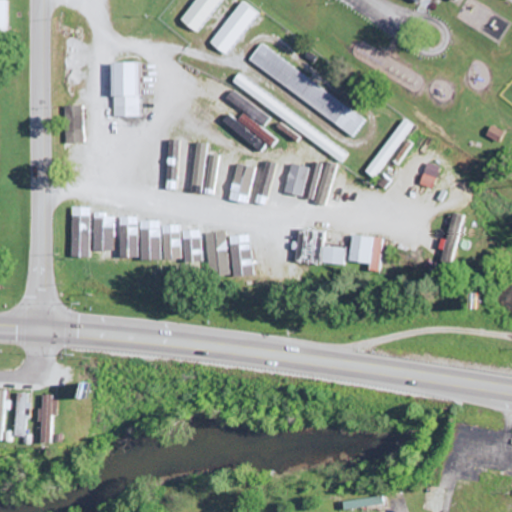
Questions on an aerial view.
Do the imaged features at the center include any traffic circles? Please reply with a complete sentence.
No, at the center there is no traffic circle.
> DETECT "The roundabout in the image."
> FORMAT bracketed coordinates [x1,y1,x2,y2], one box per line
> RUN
[404,14,451,58]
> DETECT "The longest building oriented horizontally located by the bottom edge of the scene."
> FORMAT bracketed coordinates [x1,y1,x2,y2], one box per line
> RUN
[342,493,386,510]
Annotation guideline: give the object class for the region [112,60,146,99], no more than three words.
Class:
building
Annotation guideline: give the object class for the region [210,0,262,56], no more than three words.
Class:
barn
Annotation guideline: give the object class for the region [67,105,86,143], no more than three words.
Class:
shed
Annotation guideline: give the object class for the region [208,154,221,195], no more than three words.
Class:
house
